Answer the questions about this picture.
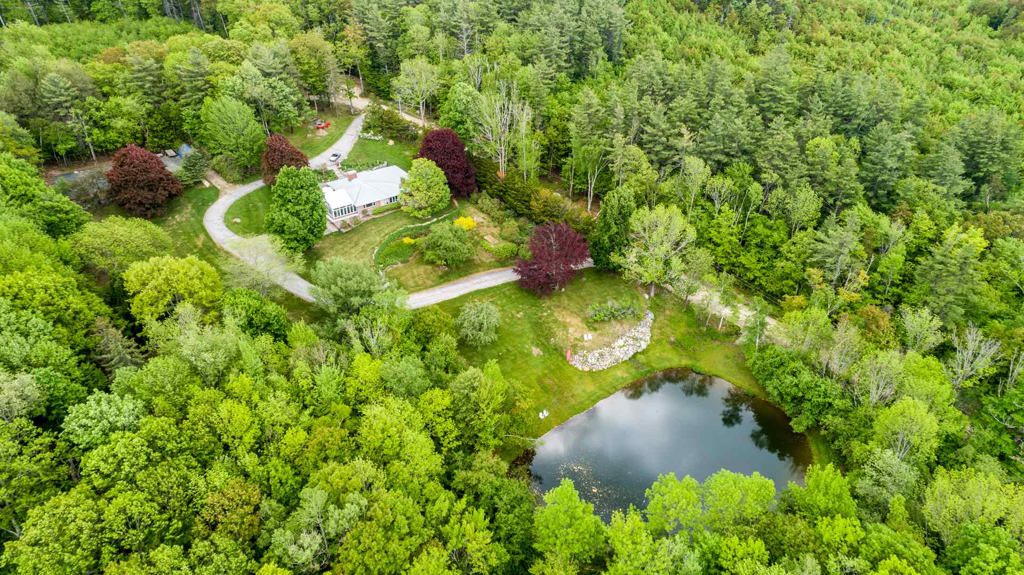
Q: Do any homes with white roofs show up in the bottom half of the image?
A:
No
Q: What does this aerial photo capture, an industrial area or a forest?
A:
forest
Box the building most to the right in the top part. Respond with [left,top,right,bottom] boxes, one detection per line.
[322,165,410,222]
